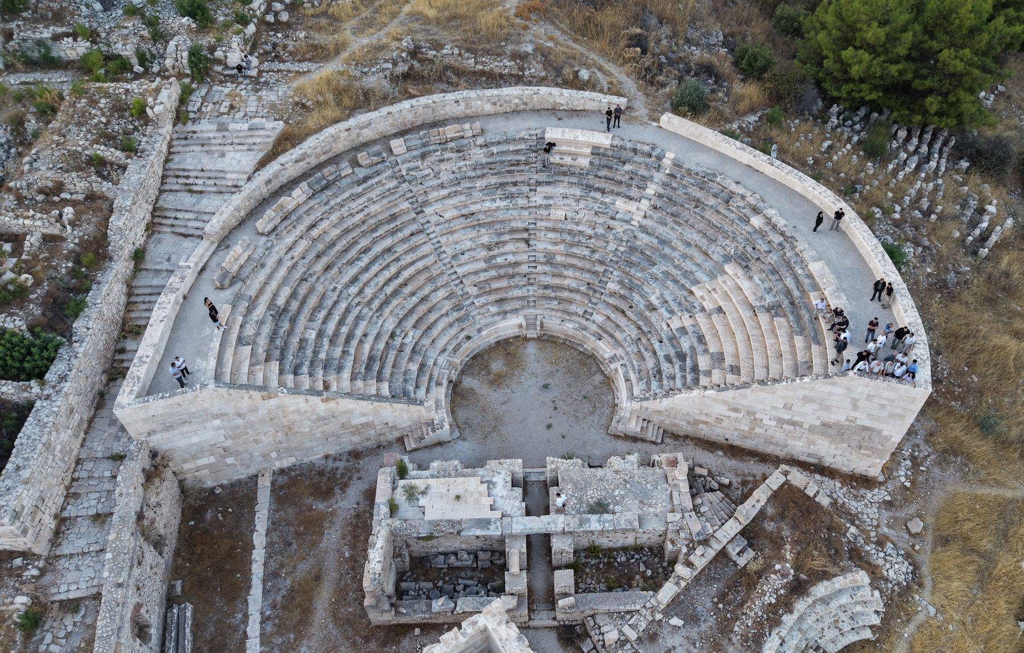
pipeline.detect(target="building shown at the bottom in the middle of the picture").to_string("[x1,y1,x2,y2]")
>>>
[363,452,691,628]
